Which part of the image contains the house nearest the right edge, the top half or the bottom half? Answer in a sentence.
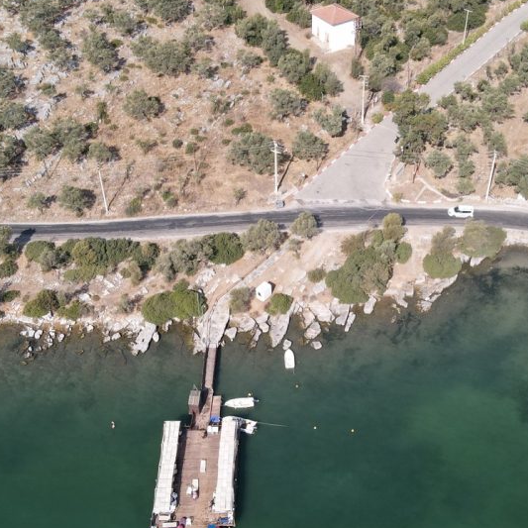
It is in the top half that the house nearest the right edge appears.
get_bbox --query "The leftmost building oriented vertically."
[187,383,202,419]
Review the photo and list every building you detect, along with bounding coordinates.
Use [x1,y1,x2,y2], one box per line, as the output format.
[253,281,272,303]
[187,383,202,419]
[304,6,357,56]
